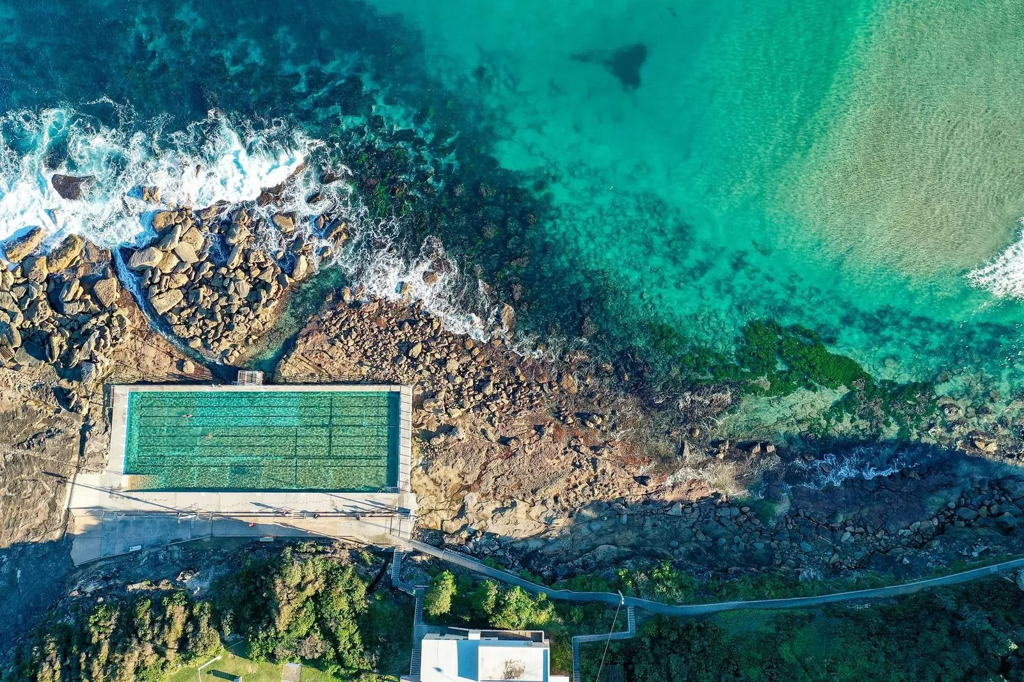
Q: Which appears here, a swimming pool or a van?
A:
swimming pool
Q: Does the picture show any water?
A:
Yes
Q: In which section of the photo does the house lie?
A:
bottom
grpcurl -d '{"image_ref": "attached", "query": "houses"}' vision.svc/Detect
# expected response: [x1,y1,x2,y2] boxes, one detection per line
[419,617,569,682]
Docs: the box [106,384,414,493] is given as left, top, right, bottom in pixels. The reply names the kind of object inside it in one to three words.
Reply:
swimming pool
